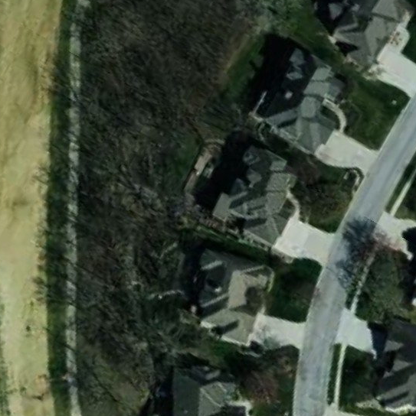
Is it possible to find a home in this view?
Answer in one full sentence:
Yes, a home appears in the view.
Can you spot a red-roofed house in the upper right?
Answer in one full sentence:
No, no red-roofed house can be made out in the upper right.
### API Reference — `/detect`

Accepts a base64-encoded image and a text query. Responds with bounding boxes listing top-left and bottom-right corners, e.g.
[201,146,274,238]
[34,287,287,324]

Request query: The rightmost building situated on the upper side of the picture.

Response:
[330,0,416,72]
